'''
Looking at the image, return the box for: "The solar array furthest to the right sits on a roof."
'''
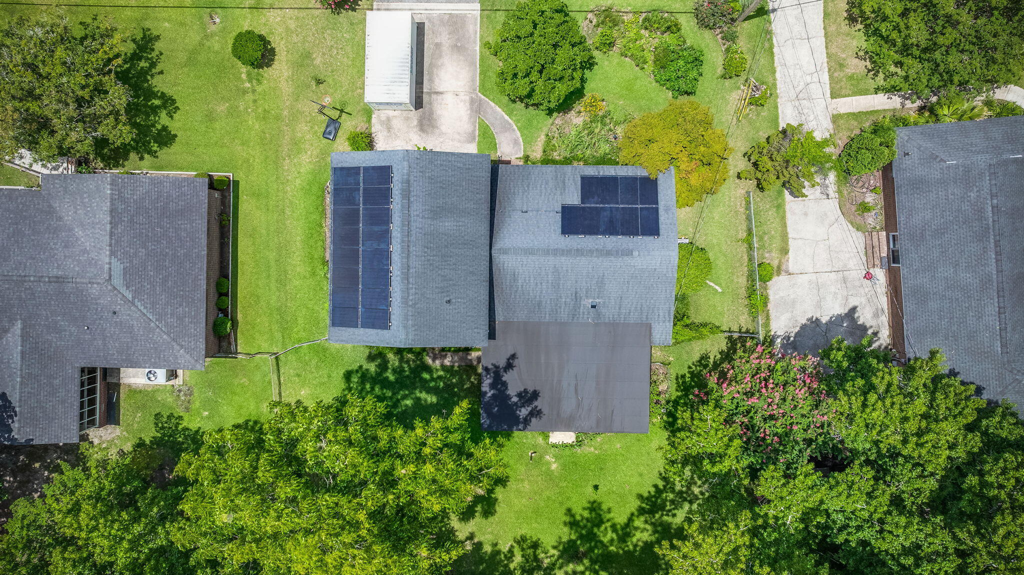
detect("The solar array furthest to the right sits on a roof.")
[561,176,659,238]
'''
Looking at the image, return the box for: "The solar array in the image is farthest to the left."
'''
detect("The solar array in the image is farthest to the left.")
[331,165,393,329]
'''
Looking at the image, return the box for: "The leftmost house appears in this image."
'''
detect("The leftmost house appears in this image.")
[0,173,221,446]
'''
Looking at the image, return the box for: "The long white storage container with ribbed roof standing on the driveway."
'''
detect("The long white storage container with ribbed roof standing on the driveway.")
[365,11,418,112]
